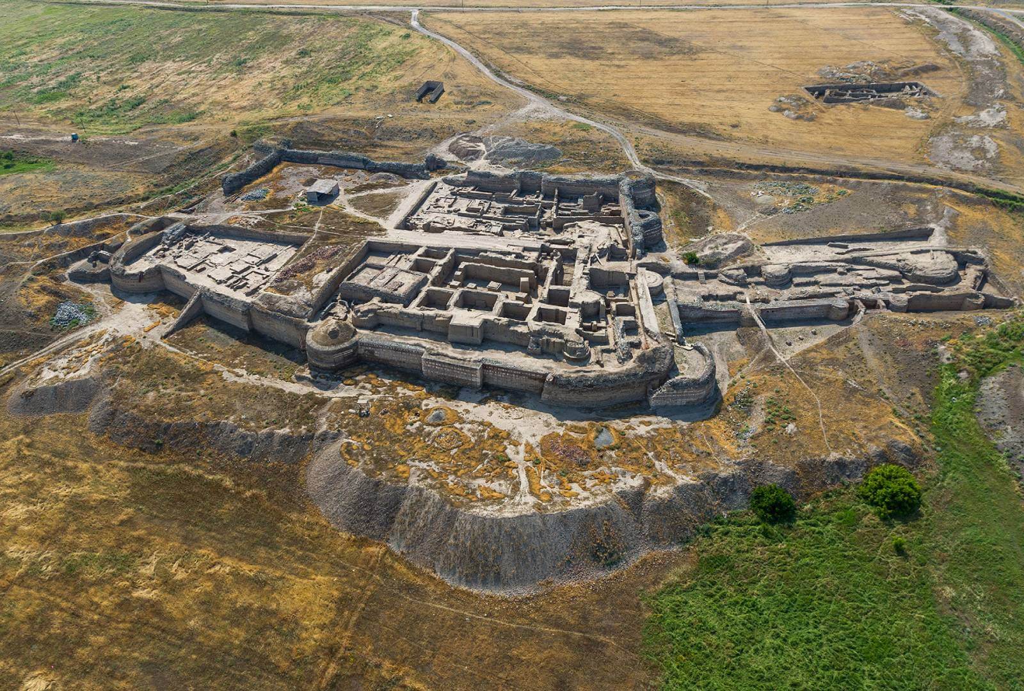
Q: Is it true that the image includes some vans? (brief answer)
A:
No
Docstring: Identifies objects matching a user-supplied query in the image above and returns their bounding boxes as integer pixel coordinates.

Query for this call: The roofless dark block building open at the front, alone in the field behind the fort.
[416,82,444,104]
